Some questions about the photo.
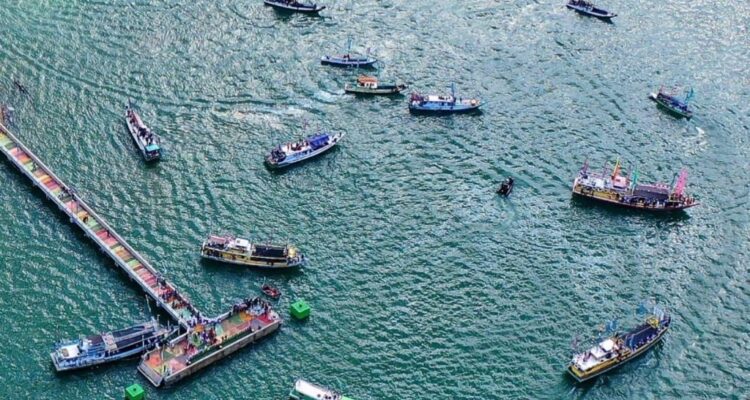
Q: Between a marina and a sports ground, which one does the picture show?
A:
marina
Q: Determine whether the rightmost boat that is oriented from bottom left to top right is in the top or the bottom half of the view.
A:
bottom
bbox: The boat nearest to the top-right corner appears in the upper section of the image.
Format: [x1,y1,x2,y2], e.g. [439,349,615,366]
[647,86,695,119]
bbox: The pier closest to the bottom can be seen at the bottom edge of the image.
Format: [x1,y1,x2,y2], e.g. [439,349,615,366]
[136,295,280,390]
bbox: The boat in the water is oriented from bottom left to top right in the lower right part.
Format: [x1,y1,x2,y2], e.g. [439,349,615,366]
[565,303,672,379]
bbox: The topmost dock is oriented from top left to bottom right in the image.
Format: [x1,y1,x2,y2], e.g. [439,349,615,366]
[0,125,211,332]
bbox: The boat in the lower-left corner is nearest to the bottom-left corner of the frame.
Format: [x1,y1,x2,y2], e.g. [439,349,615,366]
[54,319,180,371]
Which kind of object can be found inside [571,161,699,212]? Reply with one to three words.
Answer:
boat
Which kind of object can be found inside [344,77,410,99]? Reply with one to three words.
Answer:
boat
